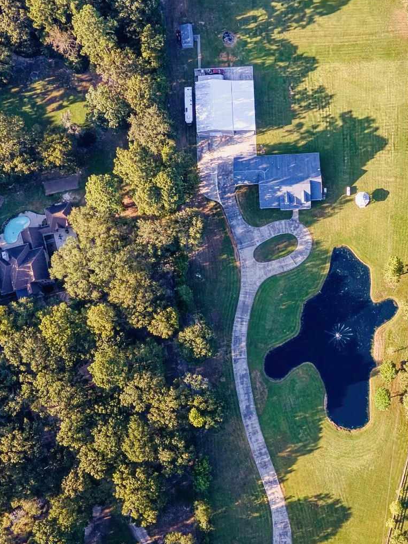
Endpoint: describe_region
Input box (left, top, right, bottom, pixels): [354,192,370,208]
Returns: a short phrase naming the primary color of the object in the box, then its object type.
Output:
white gazebo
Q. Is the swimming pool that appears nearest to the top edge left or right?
left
